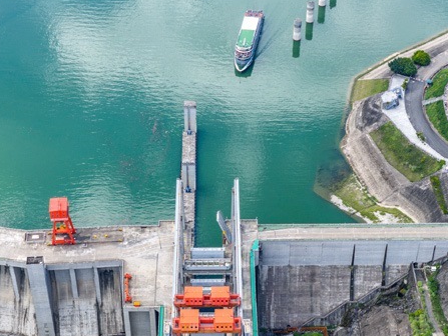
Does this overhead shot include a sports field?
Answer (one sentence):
No, the picture doesn't show any sports field.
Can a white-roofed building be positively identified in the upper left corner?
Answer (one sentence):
No, I see no white-roofed building in the upper left corner.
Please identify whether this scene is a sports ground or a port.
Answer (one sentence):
What you see here is a port.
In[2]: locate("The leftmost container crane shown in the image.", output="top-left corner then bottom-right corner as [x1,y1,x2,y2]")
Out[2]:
[48,194,78,247]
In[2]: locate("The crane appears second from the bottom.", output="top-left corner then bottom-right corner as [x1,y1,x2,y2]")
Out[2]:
[167,285,246,311]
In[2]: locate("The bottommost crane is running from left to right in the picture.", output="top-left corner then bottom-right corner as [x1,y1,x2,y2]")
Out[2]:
[167,309,247,336]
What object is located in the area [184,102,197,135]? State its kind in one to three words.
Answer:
pier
